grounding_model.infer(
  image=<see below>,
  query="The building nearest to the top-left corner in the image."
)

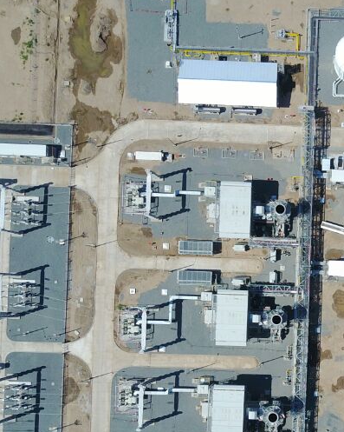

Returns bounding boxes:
[0,141,54,162]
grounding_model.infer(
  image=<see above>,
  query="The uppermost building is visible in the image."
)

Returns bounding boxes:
[176,56,279,113]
